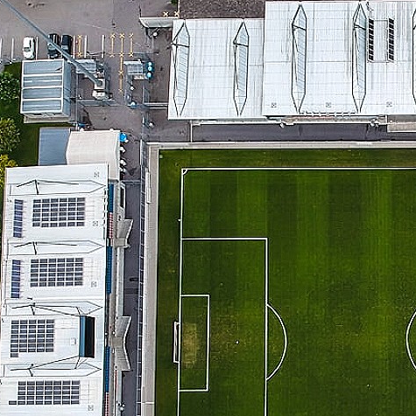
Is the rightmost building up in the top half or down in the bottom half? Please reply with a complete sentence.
The rightmost building is in the top half of the image.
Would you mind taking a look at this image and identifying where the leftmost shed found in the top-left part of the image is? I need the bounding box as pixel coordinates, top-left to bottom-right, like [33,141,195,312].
[19,58,74,125]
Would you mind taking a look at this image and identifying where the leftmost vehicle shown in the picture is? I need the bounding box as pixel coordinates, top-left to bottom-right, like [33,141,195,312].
[23,36,37,57]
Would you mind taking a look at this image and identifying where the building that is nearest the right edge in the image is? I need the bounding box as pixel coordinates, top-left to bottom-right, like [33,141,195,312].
[123,59,149,80]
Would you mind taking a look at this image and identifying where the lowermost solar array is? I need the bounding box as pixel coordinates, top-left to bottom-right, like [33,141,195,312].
[8,380,78,404]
